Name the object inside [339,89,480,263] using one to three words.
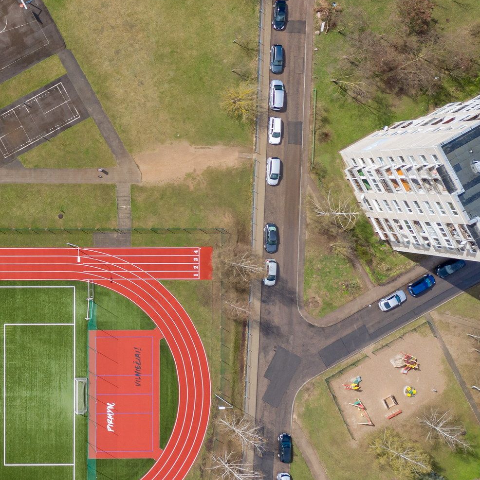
building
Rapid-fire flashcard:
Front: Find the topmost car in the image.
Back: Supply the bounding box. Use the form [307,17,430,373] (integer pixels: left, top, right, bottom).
[273,0,288,30]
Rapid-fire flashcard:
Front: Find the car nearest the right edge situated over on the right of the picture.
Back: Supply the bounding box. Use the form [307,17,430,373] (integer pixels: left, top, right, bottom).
[437,259,467,279]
